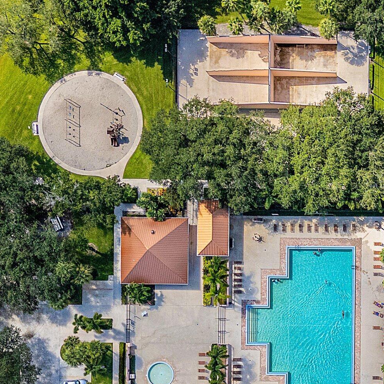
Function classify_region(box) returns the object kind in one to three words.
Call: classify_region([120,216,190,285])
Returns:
building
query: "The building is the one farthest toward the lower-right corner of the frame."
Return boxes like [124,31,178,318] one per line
[197,199,230,257]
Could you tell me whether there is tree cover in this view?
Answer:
Yes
